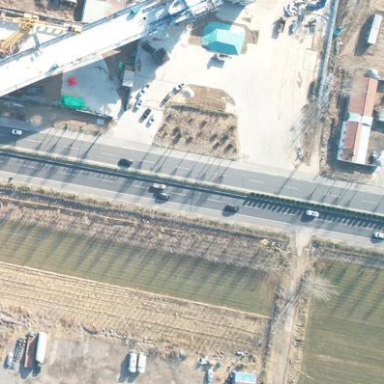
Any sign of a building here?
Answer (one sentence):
Yes, I can see a building in this picture.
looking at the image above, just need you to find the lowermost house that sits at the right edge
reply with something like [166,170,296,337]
[332,124,371,167]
